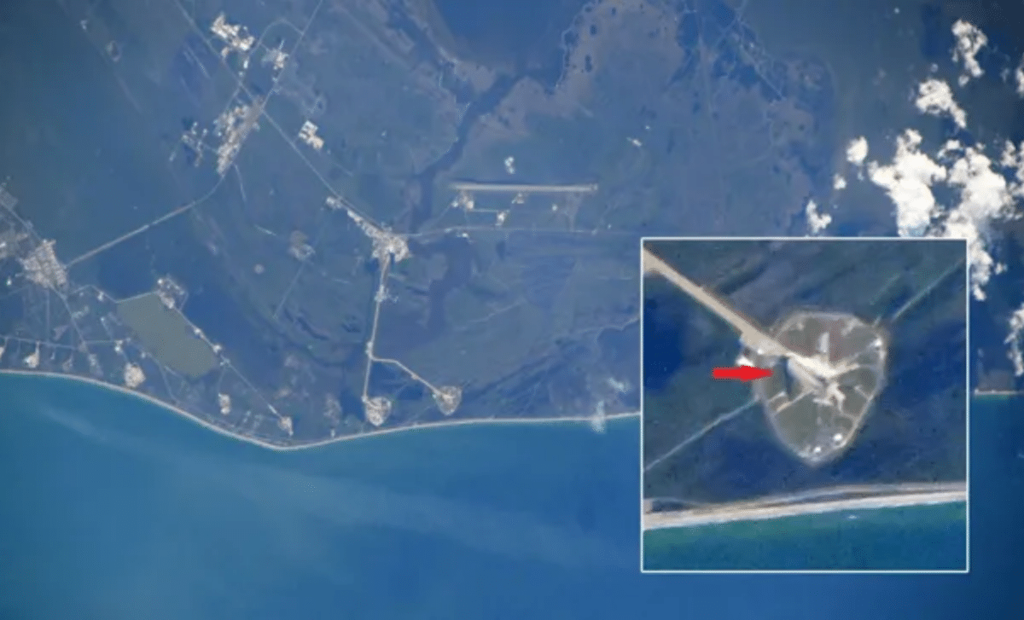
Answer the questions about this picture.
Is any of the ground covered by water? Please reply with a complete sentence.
Yes, there is water in the image.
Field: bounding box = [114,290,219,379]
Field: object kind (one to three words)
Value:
pond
